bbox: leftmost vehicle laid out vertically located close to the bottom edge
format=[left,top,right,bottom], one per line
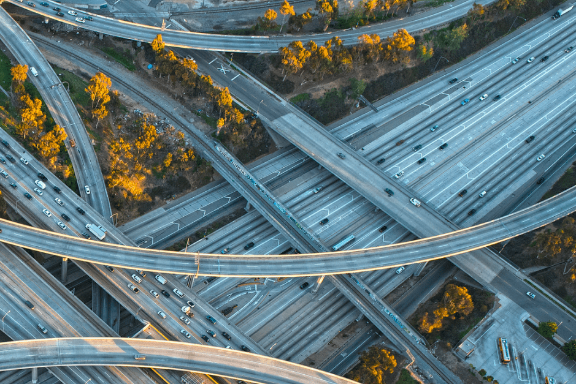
[498,338,510,367]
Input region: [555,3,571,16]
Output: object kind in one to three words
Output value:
vehicle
